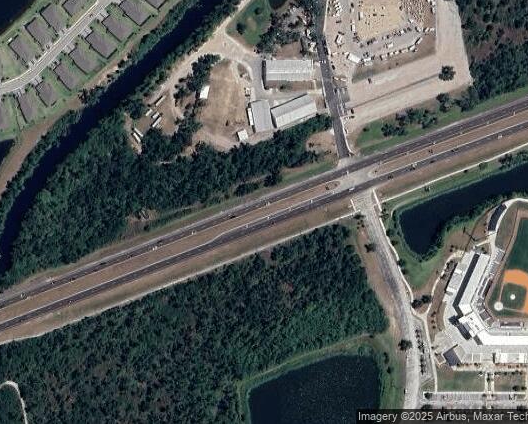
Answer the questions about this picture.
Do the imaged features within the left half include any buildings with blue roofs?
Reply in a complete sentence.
No, I see no building with a blue roof within the left half.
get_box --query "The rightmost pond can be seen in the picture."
[399,163,528,254]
